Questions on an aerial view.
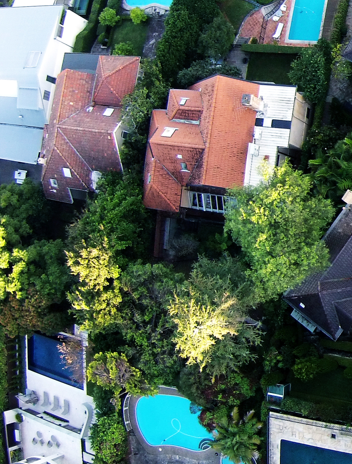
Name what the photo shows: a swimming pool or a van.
swimming pool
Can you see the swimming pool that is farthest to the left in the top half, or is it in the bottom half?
bottom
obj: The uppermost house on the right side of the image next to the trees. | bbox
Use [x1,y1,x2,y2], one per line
[142,74,309,228]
